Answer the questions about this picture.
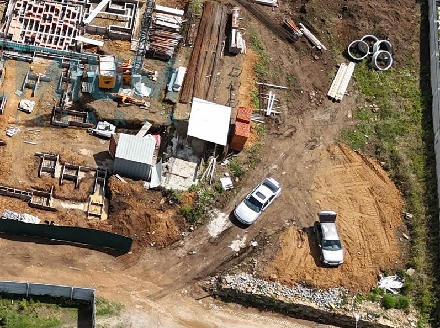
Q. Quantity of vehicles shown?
2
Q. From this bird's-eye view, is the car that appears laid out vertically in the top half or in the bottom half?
bottom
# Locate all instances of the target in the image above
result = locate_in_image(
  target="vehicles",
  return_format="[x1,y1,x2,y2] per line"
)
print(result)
[232,174,285,229]
[316,207,348,268]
